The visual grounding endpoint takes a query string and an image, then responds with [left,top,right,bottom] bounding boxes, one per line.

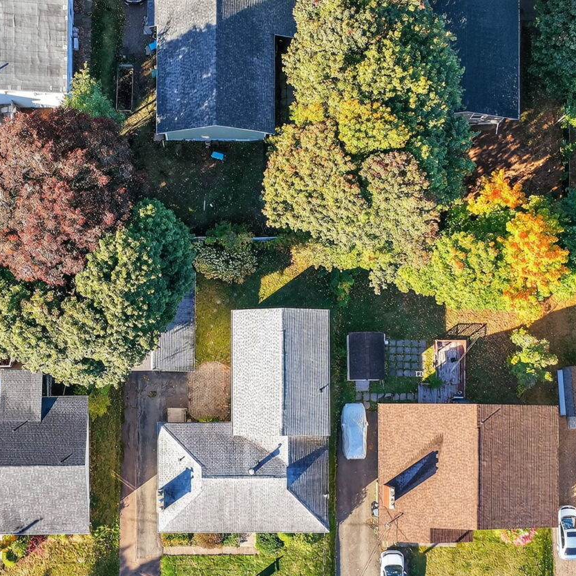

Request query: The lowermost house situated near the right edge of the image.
[371,404,559,546]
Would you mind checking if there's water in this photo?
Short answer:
No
